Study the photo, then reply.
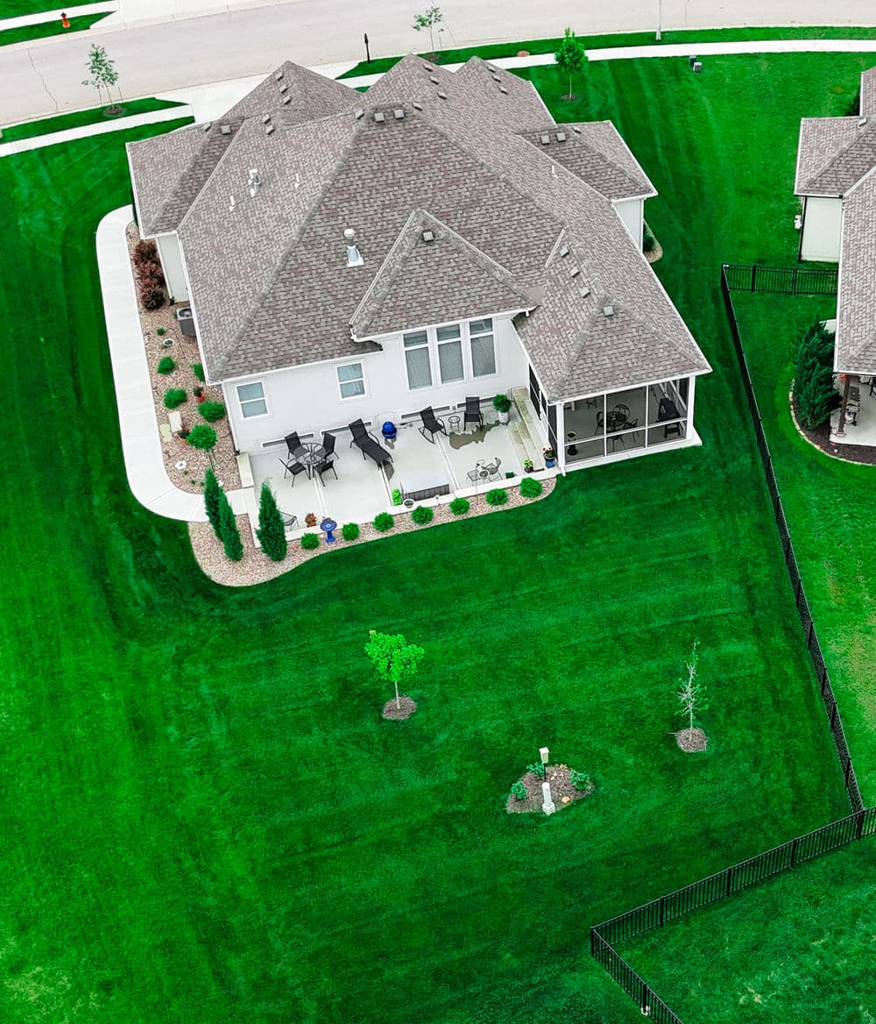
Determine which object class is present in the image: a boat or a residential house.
residential house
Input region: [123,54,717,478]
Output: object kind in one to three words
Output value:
house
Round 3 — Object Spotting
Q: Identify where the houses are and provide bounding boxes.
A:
[123,54,717,478]
[792,71,876,447]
